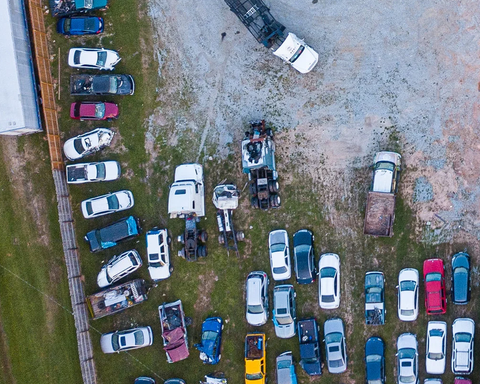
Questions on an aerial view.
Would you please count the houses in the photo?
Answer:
0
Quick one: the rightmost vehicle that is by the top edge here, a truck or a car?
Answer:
truck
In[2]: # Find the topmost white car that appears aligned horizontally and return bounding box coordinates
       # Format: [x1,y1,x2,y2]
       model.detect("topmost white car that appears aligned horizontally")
[66,46,119,70]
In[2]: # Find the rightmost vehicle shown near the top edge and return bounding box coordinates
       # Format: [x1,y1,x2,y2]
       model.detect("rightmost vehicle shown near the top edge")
[259,19,322,77]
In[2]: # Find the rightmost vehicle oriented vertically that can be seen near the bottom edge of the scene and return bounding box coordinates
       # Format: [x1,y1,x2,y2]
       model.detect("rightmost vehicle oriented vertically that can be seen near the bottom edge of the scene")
[450,318,477,376]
